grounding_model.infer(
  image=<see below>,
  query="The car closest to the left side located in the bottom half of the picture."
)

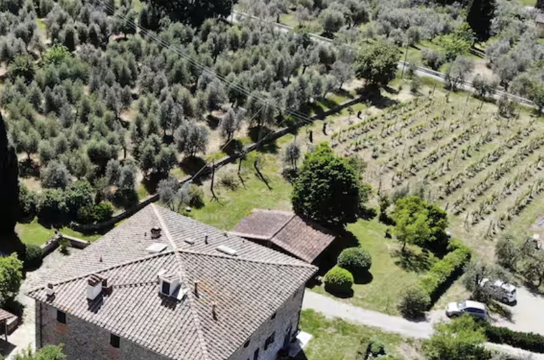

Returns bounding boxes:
[447,299,493,322]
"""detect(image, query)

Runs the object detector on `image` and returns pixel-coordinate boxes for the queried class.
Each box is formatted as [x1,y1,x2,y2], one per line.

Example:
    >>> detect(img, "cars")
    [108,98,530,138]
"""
[479,280,523,304]
[447,299,493,322]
